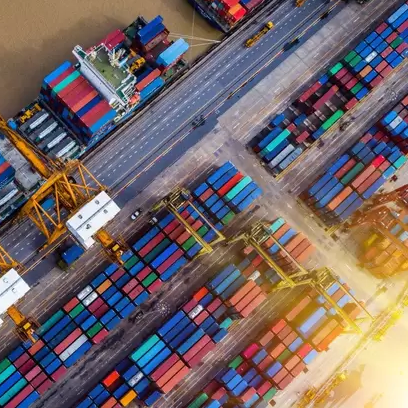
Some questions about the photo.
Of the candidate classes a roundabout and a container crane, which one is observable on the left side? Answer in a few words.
container crane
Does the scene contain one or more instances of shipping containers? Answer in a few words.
Yes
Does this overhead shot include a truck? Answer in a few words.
Yes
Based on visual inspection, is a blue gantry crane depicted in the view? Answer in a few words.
No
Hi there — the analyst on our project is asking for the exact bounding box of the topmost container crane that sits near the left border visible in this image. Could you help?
[0,122,128,270]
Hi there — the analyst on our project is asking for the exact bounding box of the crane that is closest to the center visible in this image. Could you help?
[149,184,226,262]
